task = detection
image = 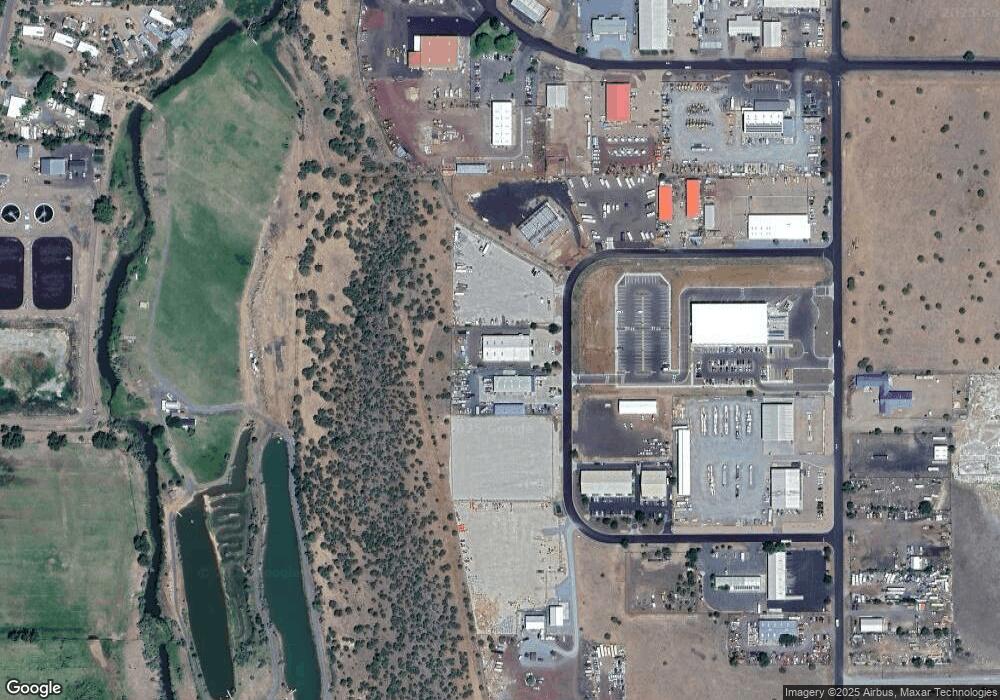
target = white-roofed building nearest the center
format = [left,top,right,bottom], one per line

[482,335,529,360]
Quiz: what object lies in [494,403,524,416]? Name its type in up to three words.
building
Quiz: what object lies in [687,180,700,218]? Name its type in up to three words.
building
